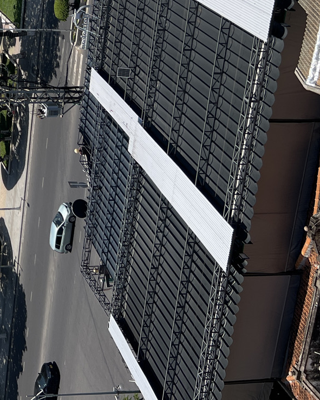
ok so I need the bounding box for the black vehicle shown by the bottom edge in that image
[32,356,57,400]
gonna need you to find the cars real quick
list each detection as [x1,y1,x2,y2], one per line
[32,356,57,400]
[44,196,74,253]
